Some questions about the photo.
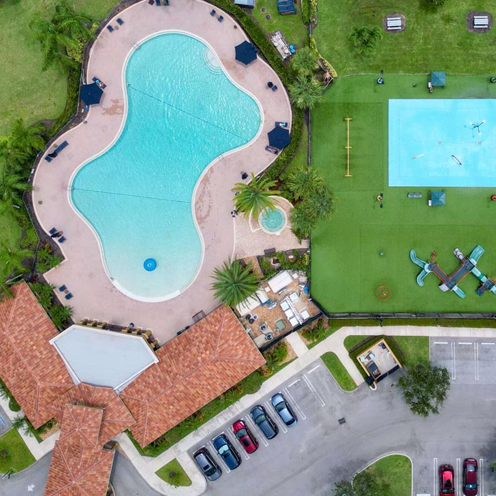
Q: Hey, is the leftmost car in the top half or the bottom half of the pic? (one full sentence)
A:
You can find the leftmost car in the bottom half.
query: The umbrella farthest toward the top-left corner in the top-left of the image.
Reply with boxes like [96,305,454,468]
[80,83,104,106]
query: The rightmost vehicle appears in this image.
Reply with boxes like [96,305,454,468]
[463,459,479,495]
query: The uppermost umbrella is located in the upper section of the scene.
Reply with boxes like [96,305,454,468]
[235,41,256,65]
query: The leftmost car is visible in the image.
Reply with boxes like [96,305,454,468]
[192,445,222,483]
